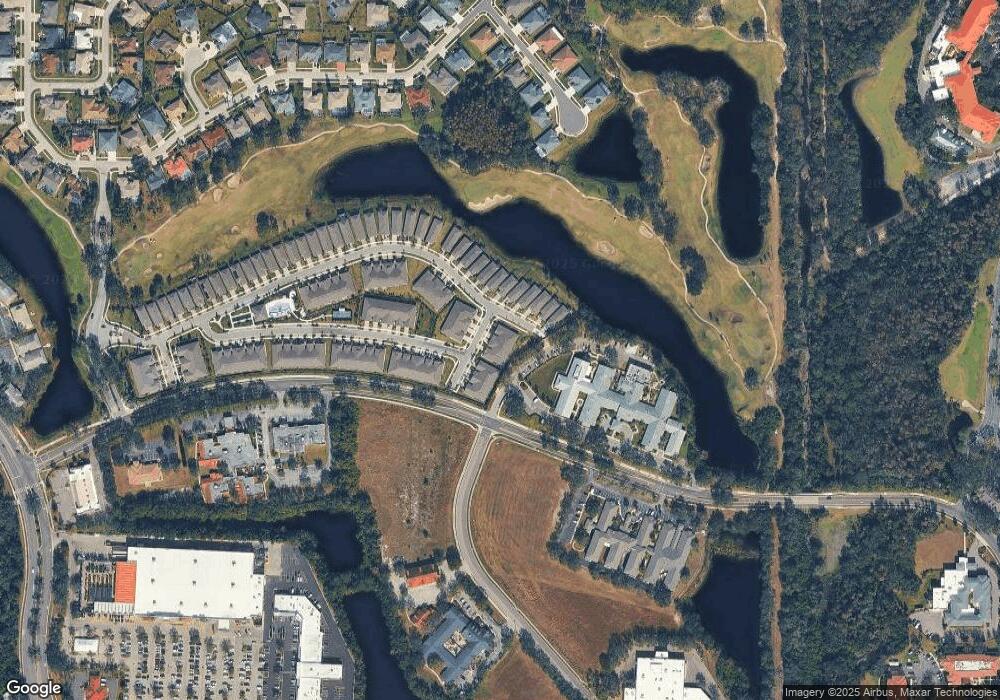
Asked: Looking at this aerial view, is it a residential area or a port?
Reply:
residential area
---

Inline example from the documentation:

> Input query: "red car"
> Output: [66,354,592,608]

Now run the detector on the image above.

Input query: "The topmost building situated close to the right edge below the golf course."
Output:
[933,557,991,624]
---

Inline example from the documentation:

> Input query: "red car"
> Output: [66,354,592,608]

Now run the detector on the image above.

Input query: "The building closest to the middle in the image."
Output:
[480,324,520,365]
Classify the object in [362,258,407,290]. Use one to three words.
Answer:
building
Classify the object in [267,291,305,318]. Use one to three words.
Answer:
swimming pool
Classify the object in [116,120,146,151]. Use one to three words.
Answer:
house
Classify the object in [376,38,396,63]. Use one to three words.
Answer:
house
